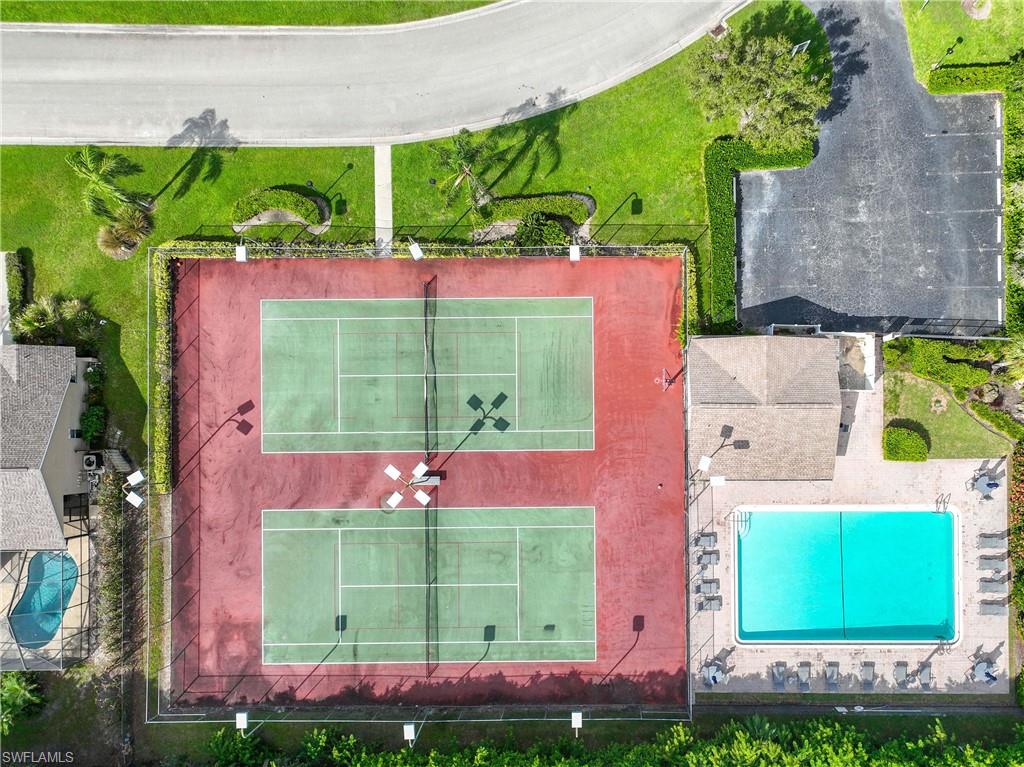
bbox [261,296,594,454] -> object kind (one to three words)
tennis court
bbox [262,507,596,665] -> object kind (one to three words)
tennis court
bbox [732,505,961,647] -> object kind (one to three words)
swimming pool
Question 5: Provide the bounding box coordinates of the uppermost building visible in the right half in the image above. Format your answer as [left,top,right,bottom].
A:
[688,332,840,481]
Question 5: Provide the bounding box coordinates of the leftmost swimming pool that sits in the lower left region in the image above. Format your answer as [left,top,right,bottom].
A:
[7,550,78,651]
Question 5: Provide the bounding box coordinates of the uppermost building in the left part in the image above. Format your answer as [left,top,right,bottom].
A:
[0,344,93,551]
